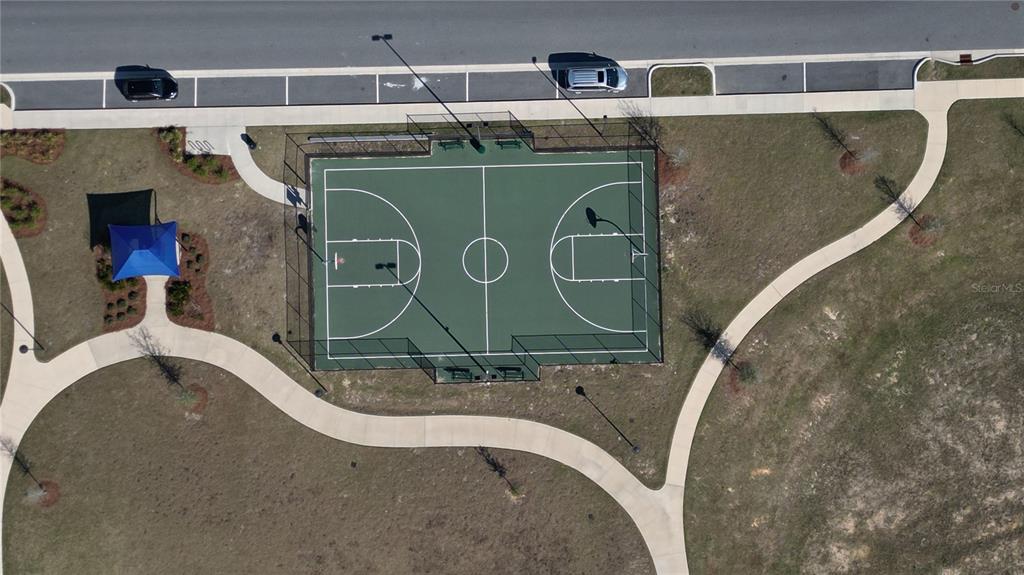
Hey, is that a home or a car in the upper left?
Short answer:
car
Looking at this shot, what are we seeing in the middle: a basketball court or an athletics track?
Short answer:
basketball court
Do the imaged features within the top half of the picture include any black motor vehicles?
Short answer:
Yes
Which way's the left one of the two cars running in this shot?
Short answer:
from side to side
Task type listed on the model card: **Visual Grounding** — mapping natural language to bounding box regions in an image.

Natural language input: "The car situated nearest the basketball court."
[564,63,629,93]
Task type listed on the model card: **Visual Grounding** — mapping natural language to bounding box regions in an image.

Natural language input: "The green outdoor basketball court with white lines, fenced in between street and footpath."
[312,137,660,382]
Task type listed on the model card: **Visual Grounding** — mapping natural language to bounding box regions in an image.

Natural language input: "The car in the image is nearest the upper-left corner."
[121,74,179,103]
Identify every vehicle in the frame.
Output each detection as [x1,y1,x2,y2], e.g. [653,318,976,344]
[564,63,629,93]
[121,74,179,103]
